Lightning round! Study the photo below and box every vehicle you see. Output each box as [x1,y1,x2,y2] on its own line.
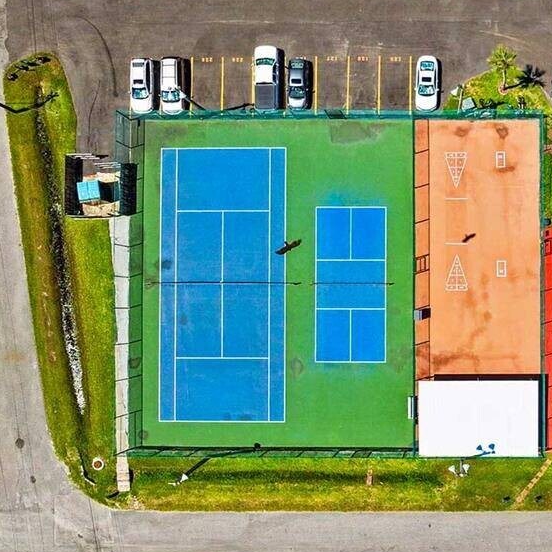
[159,57,189,118]
[414,57,441,111]
[253,46,283,111]
[286,58,313,111]
[128,57,159,111]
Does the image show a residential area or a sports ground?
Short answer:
sports ground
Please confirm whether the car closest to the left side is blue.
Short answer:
No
